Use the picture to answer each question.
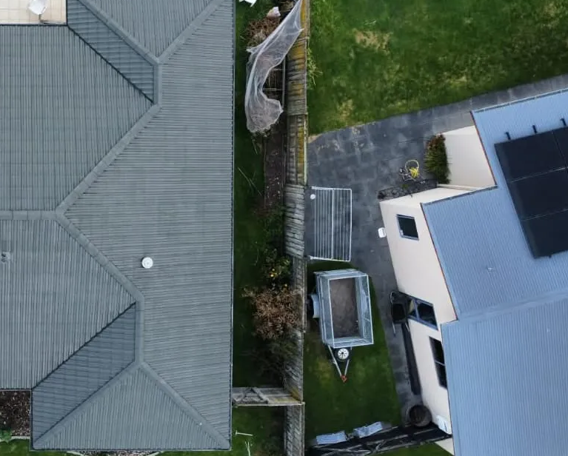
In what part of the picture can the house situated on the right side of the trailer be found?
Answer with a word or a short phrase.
right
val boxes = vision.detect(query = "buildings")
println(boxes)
[0,0,237,453]
[381,86,568,456]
